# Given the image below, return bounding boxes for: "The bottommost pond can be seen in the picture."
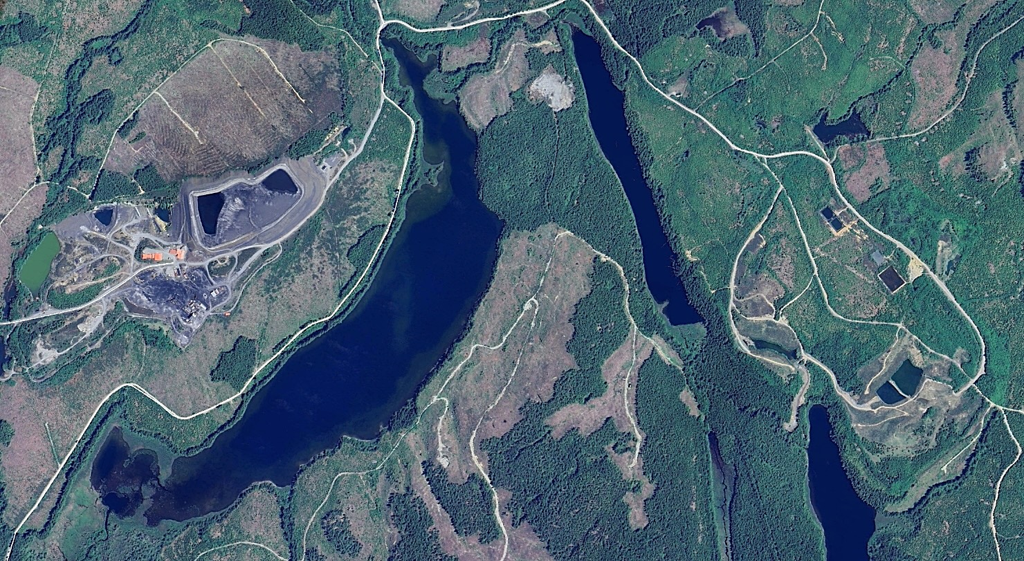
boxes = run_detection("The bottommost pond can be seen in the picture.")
[90,427,166,518]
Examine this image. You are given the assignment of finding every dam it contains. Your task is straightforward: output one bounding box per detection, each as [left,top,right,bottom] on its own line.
[183,157,311,256]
